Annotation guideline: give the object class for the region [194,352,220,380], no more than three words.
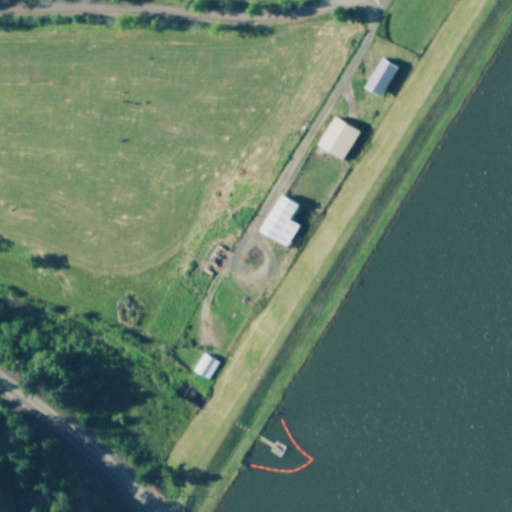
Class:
shed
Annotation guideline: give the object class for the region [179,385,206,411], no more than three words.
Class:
shed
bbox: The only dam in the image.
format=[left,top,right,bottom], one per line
[140,0,512,512]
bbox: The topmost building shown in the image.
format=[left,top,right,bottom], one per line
[365,56,400,97]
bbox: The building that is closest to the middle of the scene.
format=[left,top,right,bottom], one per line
[260,194,300,248]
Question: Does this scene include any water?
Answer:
Yes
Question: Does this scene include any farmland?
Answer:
Yes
